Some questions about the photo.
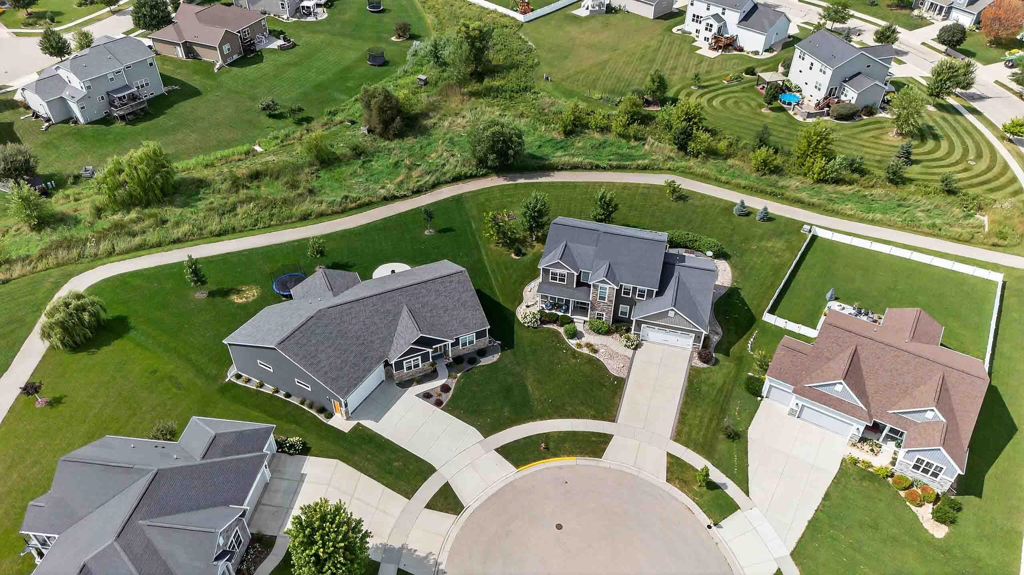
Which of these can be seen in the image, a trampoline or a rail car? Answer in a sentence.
The one in the frame is a trampoline.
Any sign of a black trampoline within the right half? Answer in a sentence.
No, within the right half there is no black trampoline.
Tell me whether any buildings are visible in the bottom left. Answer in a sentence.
Yes, I can see a building in the bottom left.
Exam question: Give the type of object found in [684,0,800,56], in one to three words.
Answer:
house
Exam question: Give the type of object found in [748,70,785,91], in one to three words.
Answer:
gazebo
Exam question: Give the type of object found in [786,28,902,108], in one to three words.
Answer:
house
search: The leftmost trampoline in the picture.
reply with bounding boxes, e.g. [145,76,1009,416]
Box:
[270,263,308,300]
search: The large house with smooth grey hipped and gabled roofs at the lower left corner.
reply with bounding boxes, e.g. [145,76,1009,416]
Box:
[14,416,277,575]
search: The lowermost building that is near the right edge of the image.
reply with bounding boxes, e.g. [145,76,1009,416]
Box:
[764,302,993,501]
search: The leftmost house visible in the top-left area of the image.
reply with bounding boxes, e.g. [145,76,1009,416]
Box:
[19,34,173,122]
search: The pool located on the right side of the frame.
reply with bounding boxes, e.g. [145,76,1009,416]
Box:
[778,90,805,106]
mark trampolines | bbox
[366,0,383,12]
[270,263,308,300]
[365,48,387,68]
